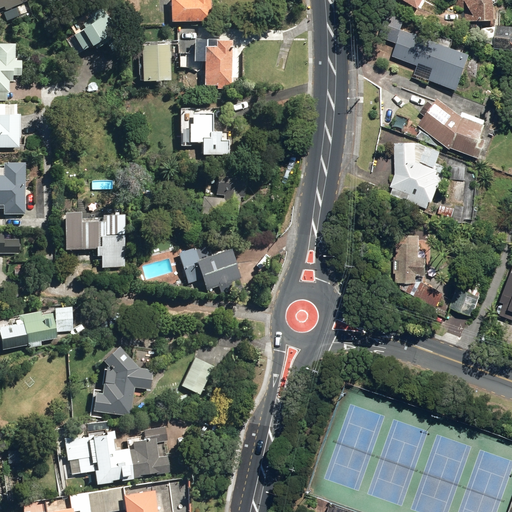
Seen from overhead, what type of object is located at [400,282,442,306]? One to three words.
shed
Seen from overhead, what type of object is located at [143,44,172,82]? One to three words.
house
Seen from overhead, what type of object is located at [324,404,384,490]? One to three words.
tennis court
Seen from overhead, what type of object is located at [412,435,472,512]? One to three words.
tennis court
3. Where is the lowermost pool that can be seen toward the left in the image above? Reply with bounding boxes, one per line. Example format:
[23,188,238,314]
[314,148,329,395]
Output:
[142,258,178,281]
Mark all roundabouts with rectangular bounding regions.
[286,299,319,332]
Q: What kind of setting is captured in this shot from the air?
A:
residential area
